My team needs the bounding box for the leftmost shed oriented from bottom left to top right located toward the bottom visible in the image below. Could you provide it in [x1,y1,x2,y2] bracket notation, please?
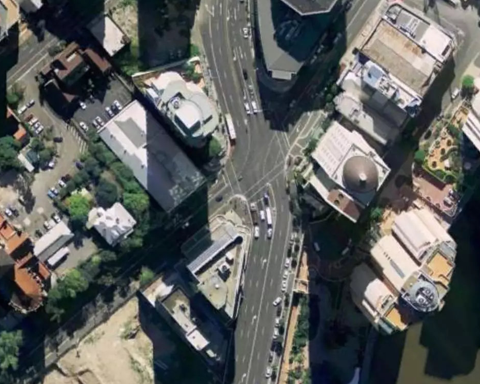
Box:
[34,221,75,262]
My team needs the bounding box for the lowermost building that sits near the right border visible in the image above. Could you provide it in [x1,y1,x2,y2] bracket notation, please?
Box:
[356,207,456,334]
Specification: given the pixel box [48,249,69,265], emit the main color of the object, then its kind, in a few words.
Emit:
white vehicle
